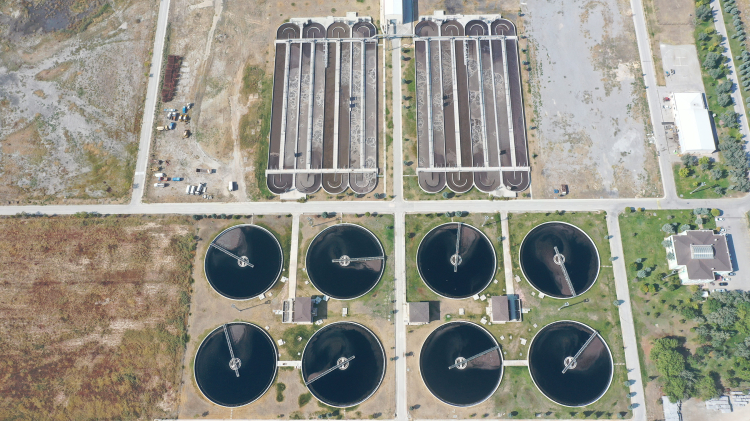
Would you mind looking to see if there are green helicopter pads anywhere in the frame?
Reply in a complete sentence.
No, this view has no green helicopter pad in it.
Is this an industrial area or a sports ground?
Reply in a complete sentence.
This image shows an industrial area.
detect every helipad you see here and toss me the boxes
[658,44,703,91]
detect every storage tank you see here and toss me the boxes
[417,222,497,299]
[301,321,385,407]
[194,321,278,408]
[413,8,530,198]
[305,223,385,300]
[419,321,504,407]
[266,10,377,201]
[527,321,614,407]
[204,224,283,301]
[519,221,601,299]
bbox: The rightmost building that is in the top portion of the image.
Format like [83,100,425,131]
[671,92,716,154]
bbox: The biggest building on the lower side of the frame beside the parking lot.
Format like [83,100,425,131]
[658,230,733,285]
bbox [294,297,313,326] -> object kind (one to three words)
building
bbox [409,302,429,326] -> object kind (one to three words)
building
